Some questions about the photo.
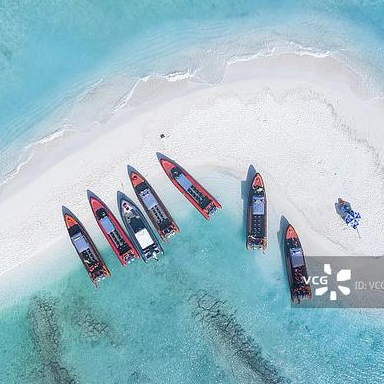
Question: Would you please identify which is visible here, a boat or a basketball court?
boat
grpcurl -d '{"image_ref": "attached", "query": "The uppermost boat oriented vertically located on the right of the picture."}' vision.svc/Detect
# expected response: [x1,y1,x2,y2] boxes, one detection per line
[247,173,267,249]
